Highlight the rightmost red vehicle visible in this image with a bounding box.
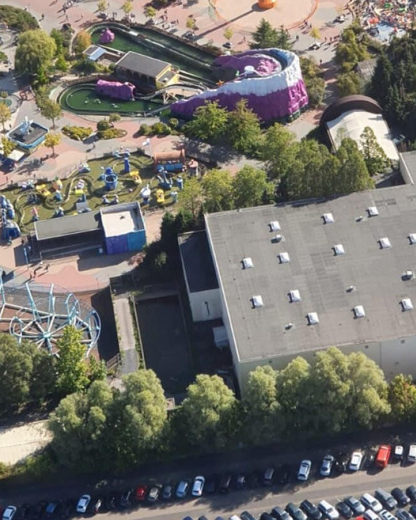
[376,441,392,468]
